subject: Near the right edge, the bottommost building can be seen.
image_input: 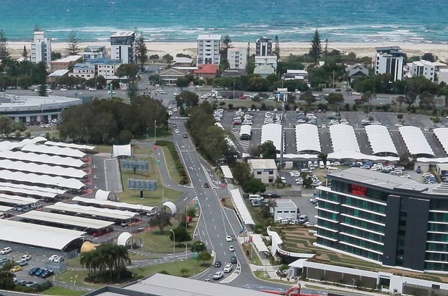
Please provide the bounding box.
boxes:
[314,173,448,276]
